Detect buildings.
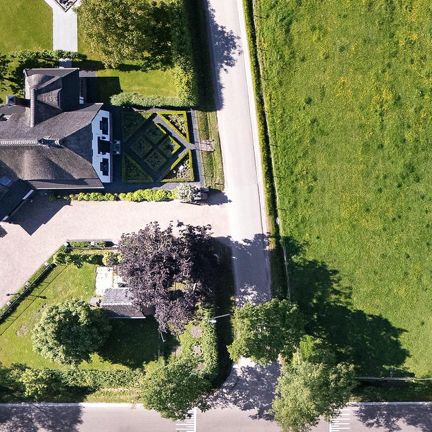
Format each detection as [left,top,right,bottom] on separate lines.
[0,65,123,235]
[93,287,153,319]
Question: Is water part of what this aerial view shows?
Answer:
No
